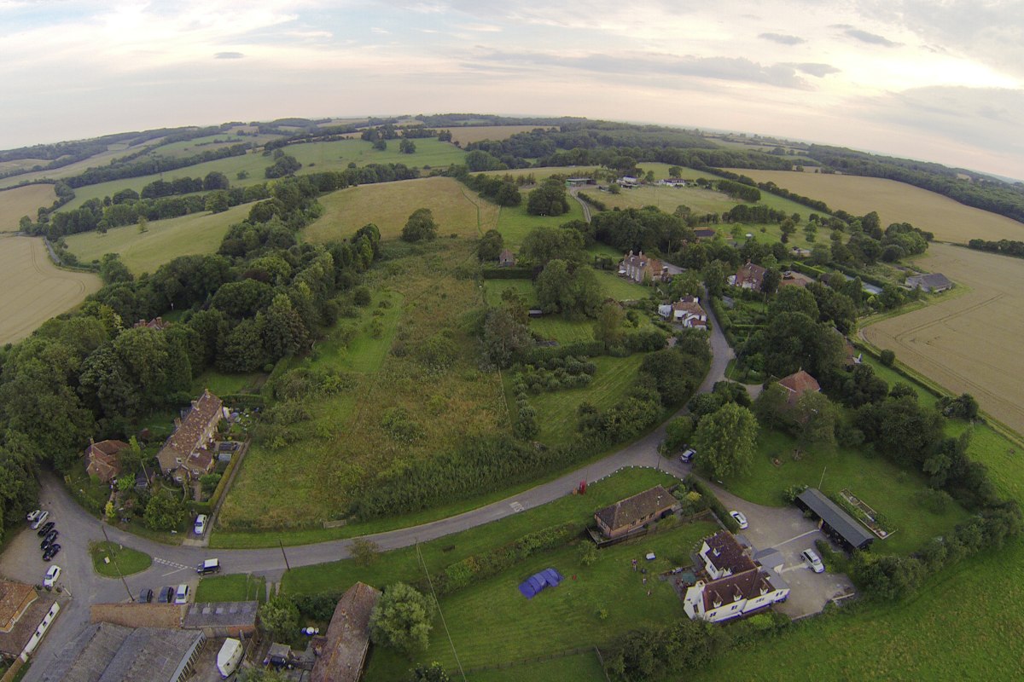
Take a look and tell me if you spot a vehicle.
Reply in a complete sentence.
Yes, this view includes a vehicle.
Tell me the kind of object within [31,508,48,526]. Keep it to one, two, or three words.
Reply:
car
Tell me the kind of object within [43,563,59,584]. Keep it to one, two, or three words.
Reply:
car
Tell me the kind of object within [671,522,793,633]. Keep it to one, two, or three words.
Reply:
house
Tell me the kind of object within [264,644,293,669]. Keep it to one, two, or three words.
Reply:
shed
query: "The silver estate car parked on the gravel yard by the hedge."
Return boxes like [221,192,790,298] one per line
[803,548,823,568]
